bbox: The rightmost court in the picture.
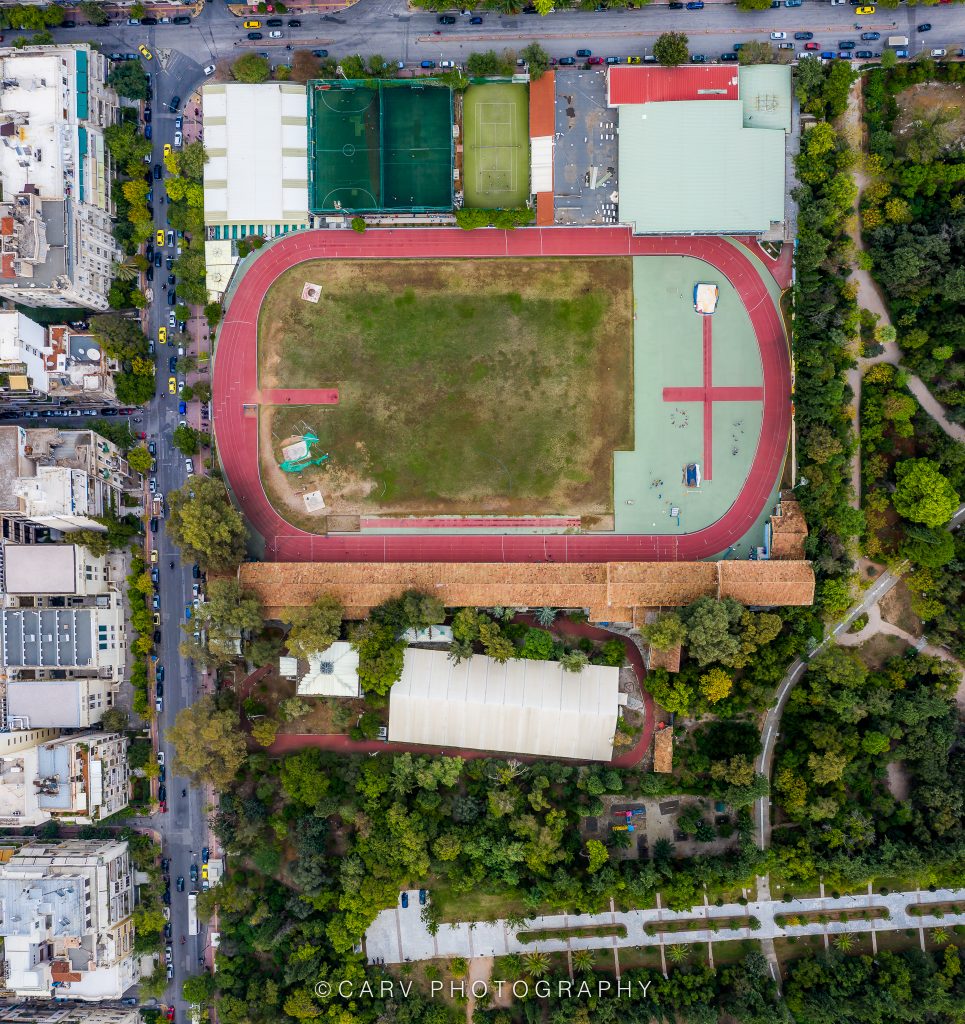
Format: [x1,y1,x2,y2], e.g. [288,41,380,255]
[463,83,530,209]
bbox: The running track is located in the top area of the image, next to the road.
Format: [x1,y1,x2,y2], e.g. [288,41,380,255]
[203,225,793,562]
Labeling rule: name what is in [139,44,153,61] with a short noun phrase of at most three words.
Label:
car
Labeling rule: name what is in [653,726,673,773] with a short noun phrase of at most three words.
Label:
shed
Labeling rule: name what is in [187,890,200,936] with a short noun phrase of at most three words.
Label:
vehicle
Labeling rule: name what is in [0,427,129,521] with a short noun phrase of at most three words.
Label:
building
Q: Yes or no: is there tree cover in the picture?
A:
Yes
